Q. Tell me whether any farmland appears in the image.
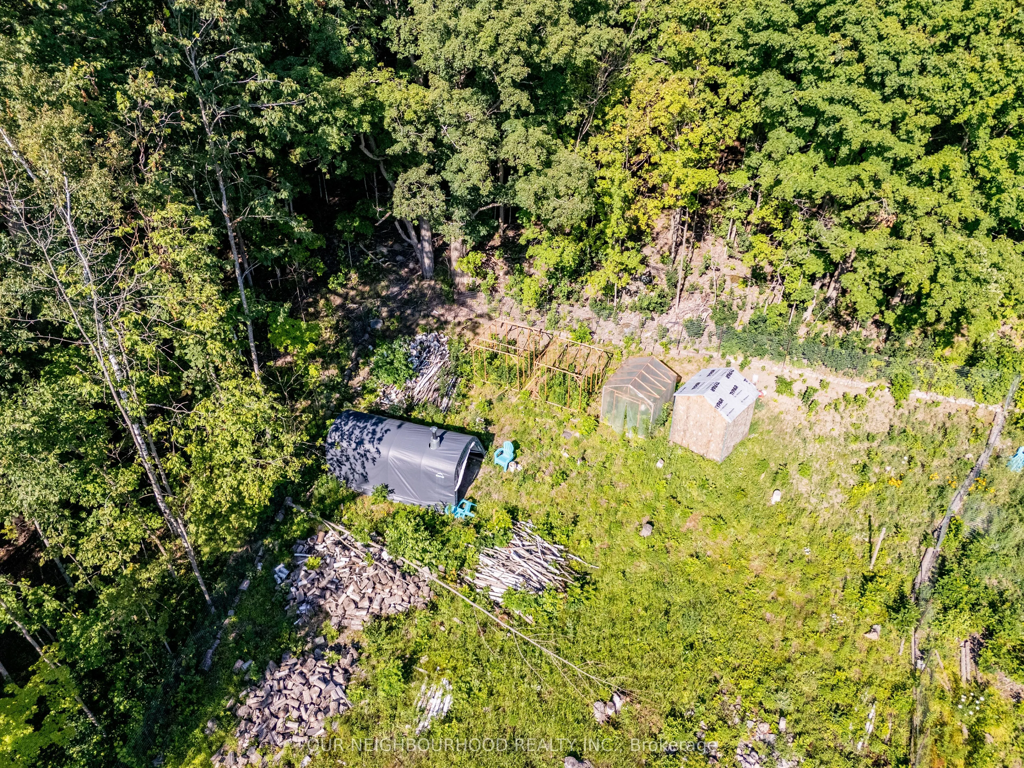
No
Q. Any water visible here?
No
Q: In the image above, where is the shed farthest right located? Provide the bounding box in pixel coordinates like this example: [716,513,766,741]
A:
[668,368,760,465]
